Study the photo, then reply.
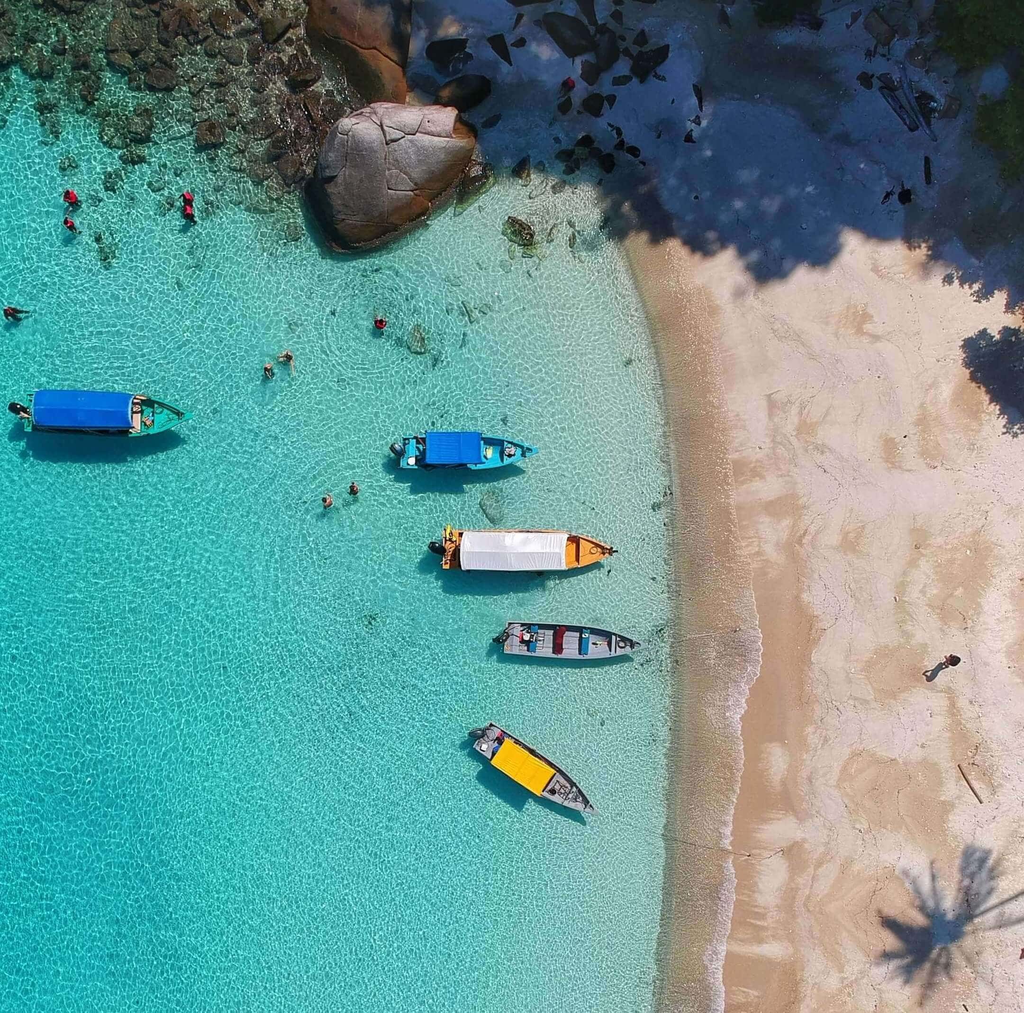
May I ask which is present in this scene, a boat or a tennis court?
boat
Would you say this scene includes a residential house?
No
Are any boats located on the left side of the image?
Yes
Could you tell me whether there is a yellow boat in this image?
Yes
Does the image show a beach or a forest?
beach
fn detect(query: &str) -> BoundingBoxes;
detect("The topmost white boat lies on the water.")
[430,530,617,571]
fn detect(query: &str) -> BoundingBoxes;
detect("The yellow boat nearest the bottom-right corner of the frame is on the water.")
[474,720,599,815]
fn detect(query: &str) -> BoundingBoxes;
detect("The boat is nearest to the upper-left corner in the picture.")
[5,390,196,434]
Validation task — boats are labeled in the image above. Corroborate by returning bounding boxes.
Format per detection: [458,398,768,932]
[388,433,538,469]
[5,390,196,434]
[430,530,617,571]
[474,720,599,815]
[494,622,647,658]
